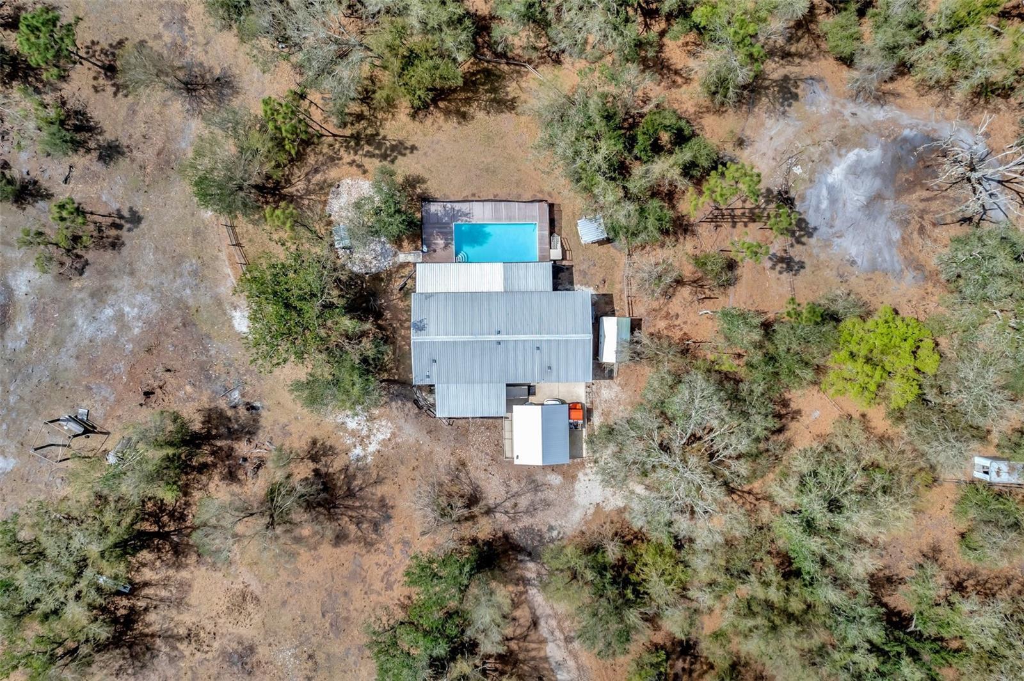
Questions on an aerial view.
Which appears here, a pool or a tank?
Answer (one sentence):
I can see a pool in this picture.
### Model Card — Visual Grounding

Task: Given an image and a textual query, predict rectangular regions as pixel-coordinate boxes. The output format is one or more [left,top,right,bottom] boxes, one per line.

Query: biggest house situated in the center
[410,262,593,417]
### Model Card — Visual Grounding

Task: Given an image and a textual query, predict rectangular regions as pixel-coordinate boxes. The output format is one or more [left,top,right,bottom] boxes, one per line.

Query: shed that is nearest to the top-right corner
[574,215,608,249]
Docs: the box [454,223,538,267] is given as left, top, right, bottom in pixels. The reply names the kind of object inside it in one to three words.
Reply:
swimming pool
